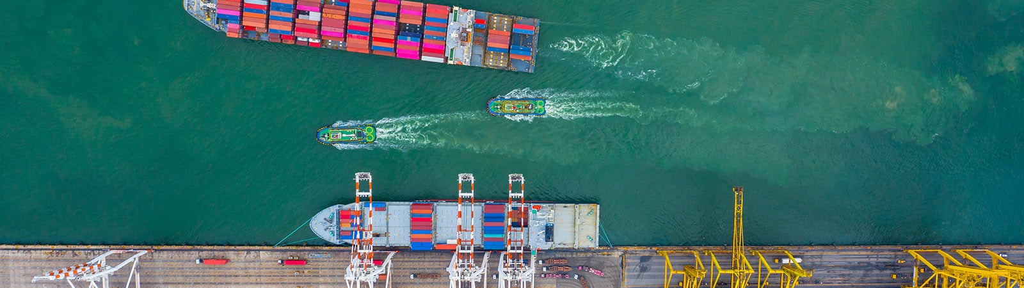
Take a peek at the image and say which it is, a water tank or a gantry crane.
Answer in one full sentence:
The image shows a gantry crane.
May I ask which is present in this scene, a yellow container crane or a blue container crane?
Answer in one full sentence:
Looking from above, you can make out a yellow container crane.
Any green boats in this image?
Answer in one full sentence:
Yes, you can see a green boat in this photo.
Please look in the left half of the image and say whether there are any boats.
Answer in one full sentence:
Yes, a boat is visible in the left half of the image.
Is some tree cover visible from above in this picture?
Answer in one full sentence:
No, there is no tree cover in the image.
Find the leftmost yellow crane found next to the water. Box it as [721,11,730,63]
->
[655,251,709,288]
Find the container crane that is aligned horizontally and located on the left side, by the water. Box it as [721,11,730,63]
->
[36,251,155,288]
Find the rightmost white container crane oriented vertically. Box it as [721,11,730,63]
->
[497,174,538,288]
